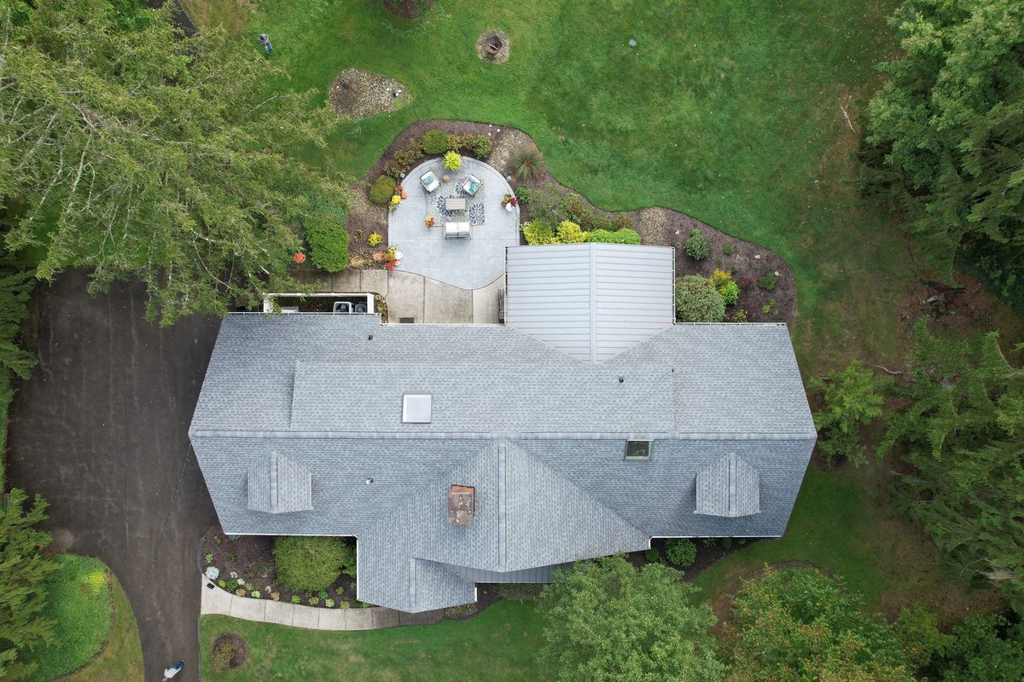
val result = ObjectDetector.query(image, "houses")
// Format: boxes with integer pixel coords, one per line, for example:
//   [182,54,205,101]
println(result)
[190,242,816,613]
